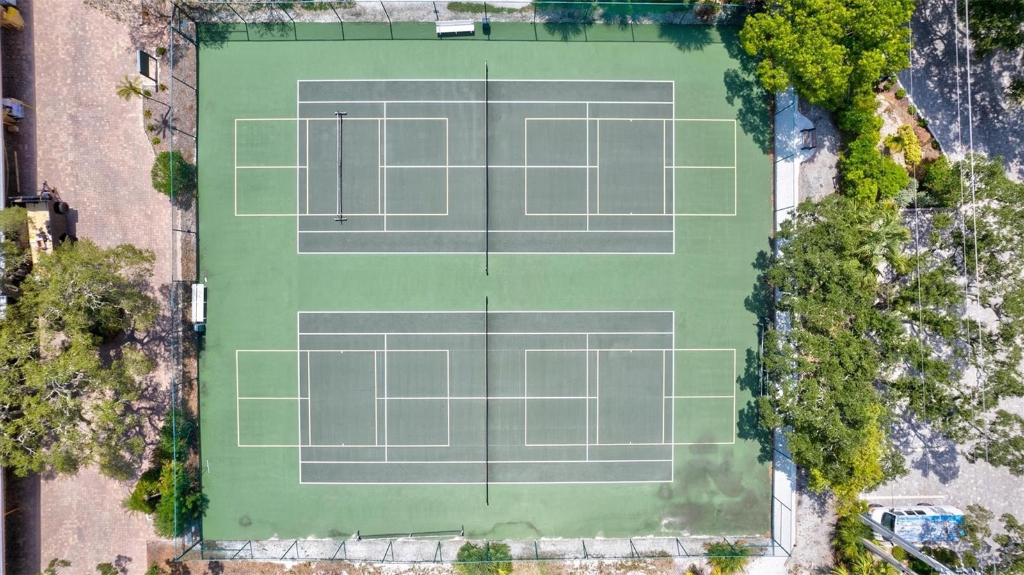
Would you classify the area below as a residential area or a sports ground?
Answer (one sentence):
The area seen from above is a sports ground.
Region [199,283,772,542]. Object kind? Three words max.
tennis court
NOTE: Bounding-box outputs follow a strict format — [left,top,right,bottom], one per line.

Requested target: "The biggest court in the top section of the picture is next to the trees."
[196,23,772,283]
